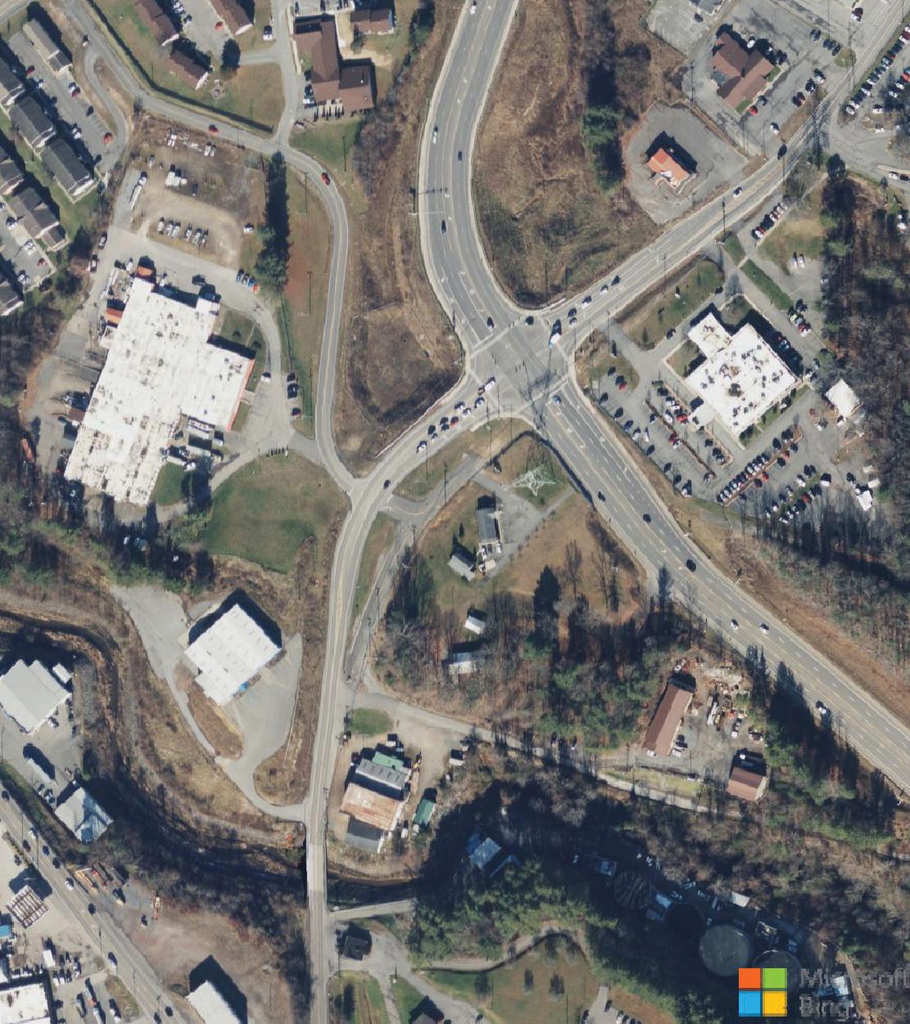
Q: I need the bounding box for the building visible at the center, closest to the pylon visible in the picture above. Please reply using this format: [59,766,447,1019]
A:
[477,509,507,547]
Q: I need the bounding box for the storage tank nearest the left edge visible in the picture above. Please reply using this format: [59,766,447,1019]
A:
[613,870,653,910]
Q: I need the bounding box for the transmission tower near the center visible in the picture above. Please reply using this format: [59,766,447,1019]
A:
[509,460,561,500]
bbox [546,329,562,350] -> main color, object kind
white vehicle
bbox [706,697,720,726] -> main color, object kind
white vehicle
